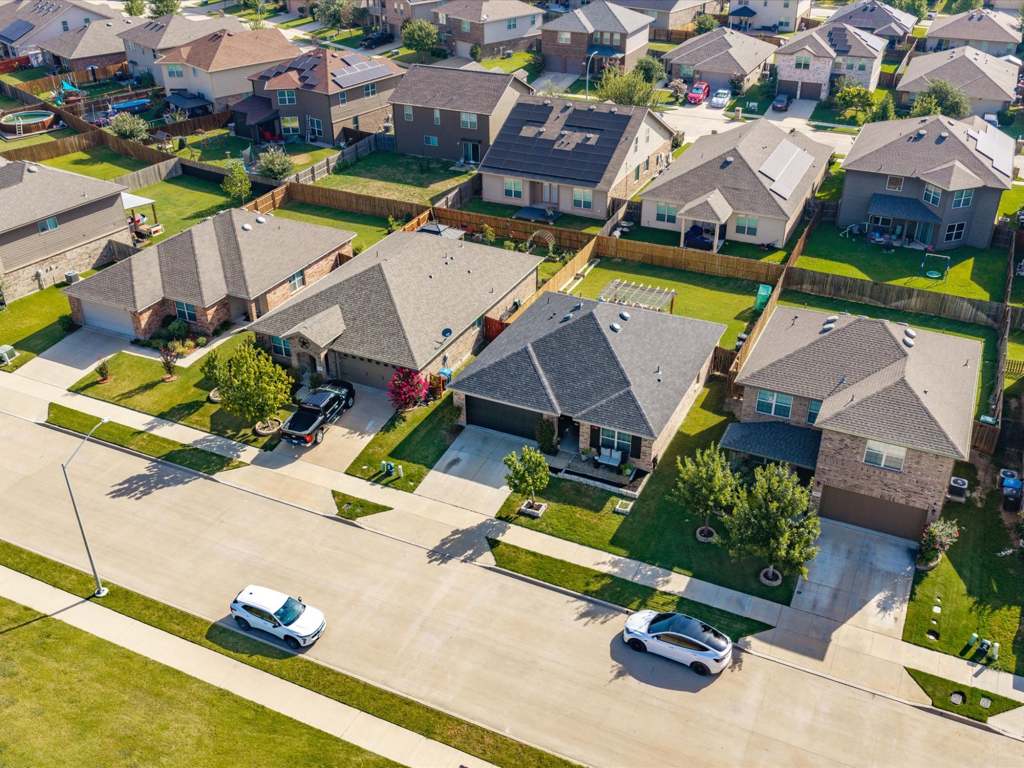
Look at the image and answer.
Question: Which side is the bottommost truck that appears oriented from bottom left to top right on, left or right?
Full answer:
The bottommost truck that appears oriented from bottom left to top right is on the left side of the image.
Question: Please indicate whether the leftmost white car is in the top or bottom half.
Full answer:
The bottom half of the photo is where the leftmost white car is.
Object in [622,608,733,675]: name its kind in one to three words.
car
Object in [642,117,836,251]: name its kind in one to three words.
house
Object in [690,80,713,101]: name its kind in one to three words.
car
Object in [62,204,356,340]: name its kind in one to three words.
house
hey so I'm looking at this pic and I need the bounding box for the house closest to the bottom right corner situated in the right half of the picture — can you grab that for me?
[720,302,985,542]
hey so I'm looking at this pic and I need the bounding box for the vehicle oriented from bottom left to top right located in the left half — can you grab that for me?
[278,380,361,446]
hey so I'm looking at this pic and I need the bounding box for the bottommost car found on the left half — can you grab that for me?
[230,584,325,649]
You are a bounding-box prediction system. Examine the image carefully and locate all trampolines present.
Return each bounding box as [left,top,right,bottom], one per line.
[75,97,112,126]
[239,135,280,169]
